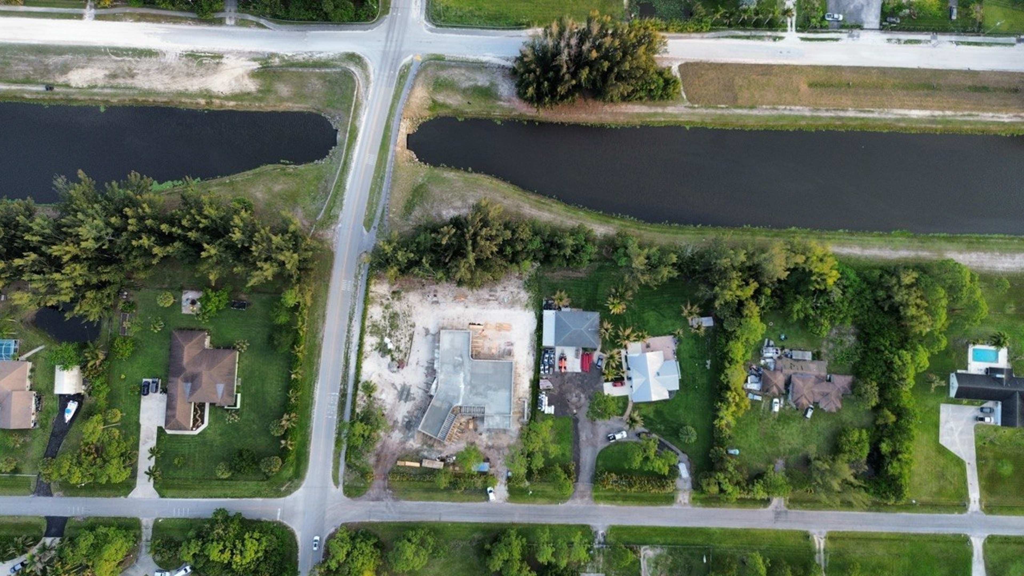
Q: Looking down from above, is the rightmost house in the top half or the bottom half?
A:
bottom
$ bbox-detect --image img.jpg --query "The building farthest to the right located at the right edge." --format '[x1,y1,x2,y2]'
[950,367,1024,427]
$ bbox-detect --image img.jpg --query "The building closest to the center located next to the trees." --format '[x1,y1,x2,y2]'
[542,310,600,348]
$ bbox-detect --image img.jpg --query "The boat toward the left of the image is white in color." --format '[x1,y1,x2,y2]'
[64,400,79,424]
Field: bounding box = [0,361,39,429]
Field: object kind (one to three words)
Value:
house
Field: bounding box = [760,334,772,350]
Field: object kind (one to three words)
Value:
vehicle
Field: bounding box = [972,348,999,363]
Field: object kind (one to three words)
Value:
swimming pool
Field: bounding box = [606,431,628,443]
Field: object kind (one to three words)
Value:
vehicle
